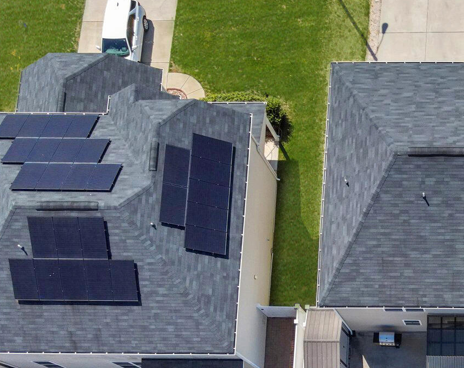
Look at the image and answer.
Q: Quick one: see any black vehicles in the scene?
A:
No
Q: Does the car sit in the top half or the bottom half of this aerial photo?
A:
top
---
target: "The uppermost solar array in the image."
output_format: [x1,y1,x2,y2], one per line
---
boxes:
[0,115,122,191]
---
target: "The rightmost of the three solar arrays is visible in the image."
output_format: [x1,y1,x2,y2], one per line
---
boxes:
[159,133,234,256]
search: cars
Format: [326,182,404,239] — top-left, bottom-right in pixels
[97,1,147,64]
